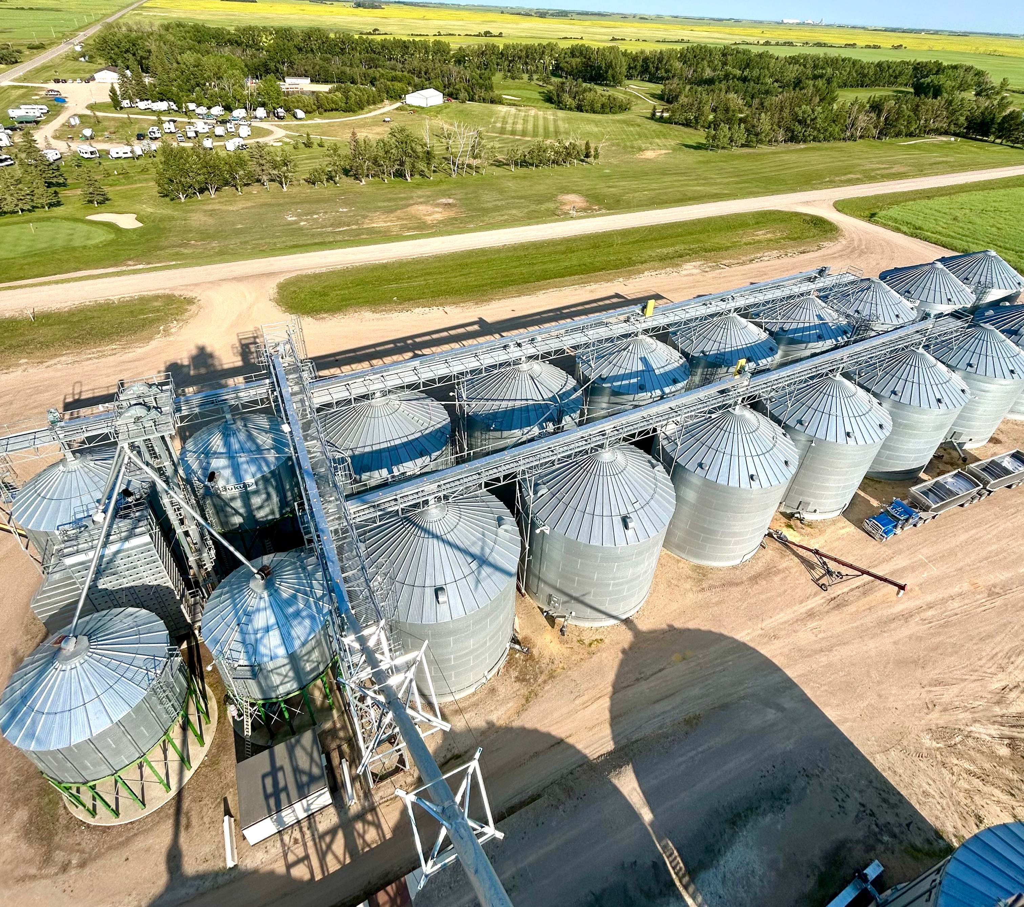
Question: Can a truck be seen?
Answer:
Yes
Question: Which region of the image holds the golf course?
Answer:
top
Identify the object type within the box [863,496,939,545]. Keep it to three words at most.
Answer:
truck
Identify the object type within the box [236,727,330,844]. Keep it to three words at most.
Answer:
shed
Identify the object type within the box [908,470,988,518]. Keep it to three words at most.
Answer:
trailer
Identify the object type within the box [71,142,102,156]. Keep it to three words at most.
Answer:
vehicle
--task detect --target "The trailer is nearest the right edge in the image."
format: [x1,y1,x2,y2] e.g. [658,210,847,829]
[966,447,1024,493]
